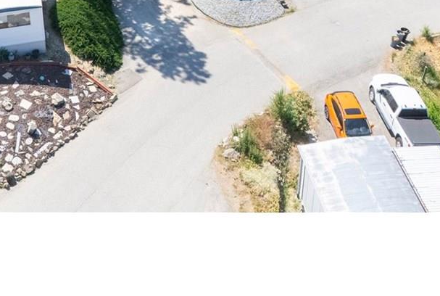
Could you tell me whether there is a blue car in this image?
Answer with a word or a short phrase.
No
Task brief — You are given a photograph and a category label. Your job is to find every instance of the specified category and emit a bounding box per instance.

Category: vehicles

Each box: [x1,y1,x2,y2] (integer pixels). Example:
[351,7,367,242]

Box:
[323,82,379,147]
[378,70,440,152]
